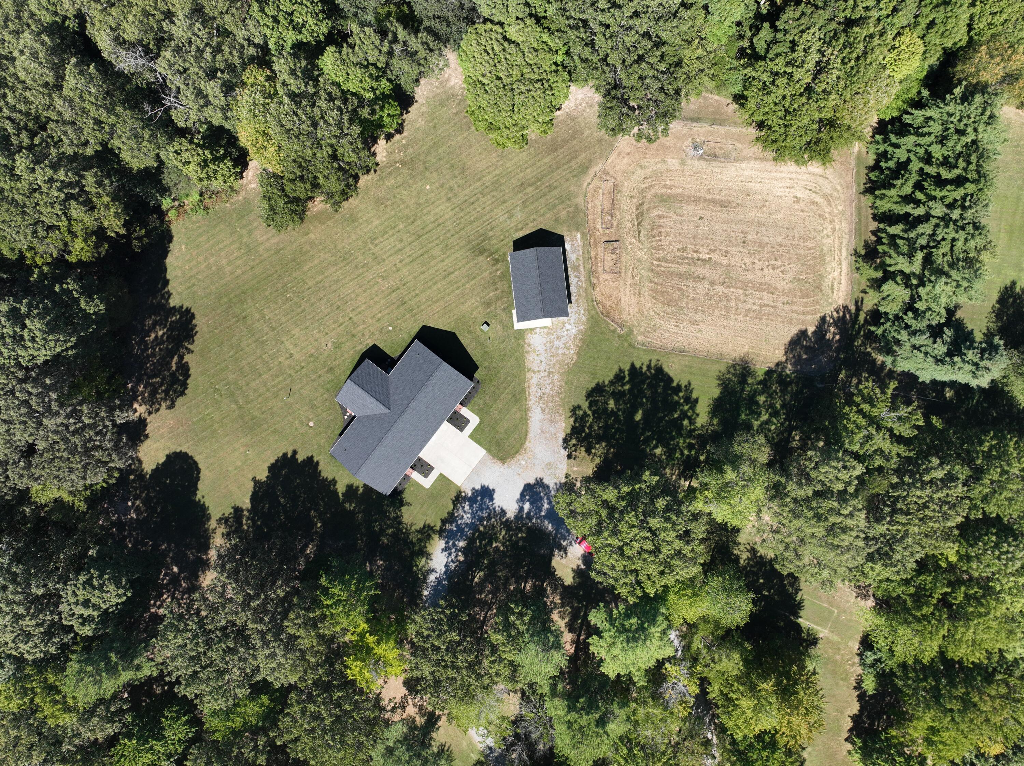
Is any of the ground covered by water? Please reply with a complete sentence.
No, no water is visible.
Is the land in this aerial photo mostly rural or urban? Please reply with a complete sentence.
The land in this view is best described as rural.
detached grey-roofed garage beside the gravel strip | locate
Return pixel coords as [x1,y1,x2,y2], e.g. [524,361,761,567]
[508,246,570,323]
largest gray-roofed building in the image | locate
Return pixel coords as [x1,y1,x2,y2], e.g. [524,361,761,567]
[330,339,474,497]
